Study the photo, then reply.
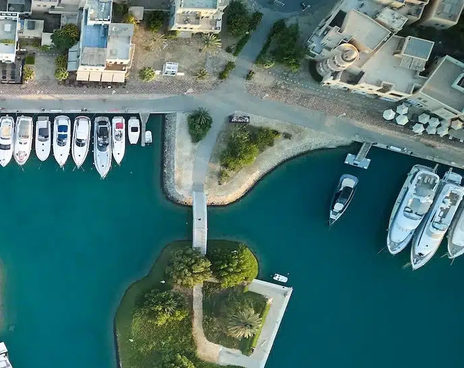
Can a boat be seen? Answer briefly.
Yes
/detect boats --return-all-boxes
[0,353,13,368]
[52,114,72,172]
[34,115,52,160]
[71,114,91,176]
[0,114,14,171]
[112,115,126,166]
[389,159,440,255]
[272,273,288,282]
[326,166,360,234]
[126,118,140,144]
[13,113,33,175]
[146,130,152,145]
[92,114,113,179]
[447,188,464,259]
[411,164,464,271]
